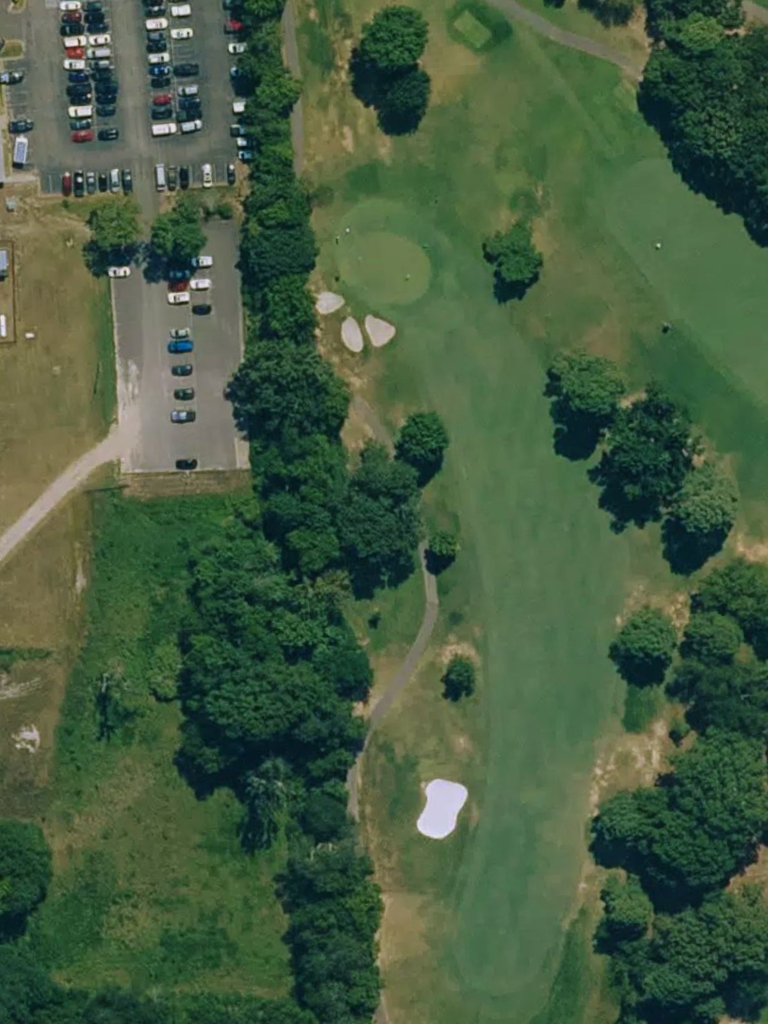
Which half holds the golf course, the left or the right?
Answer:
right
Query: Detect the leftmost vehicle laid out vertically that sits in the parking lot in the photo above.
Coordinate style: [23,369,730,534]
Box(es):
[14,136,27,166]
